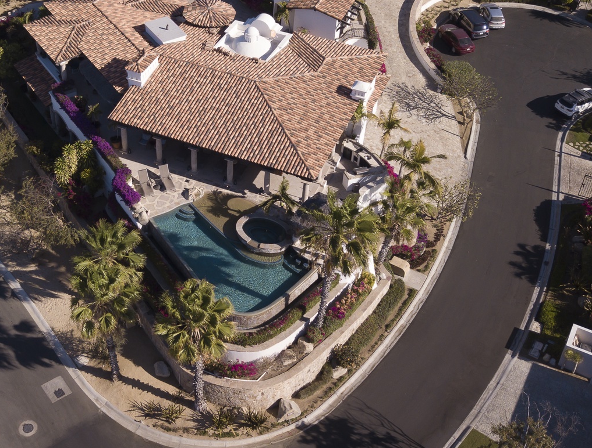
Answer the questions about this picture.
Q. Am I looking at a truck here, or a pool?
pool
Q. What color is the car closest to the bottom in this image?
black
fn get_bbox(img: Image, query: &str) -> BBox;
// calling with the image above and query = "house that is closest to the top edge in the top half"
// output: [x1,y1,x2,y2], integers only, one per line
[14,0,391,204]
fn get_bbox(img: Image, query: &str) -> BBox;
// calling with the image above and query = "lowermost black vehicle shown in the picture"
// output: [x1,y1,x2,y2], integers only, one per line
[558,85,592,113]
